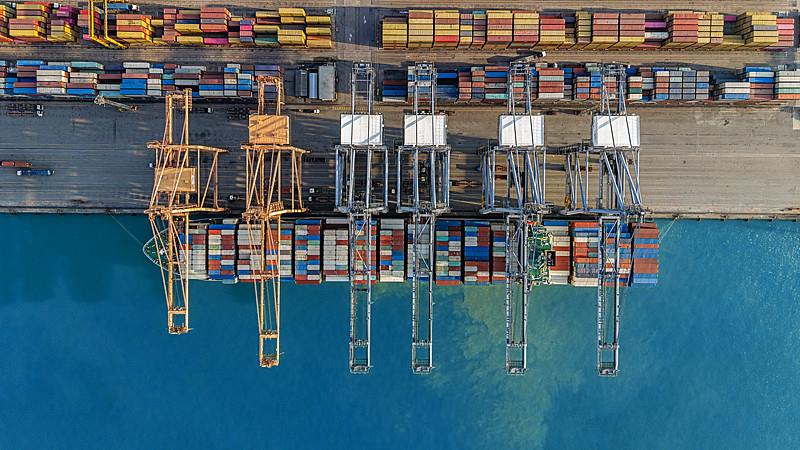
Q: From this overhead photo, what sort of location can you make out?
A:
port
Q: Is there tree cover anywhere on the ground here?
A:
No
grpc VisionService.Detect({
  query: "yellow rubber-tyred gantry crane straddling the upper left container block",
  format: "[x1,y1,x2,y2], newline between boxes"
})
[88,0,128,52]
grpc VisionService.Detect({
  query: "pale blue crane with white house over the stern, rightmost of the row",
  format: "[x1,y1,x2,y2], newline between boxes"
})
[547,64,644,377]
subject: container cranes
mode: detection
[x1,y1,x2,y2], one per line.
[331,62,394,374]
[392,62,454,374]
[88,0,128,52]
[144,88,243,334]
[241,77,323,367]
[547,64,644,377]
[468,57,548,375]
